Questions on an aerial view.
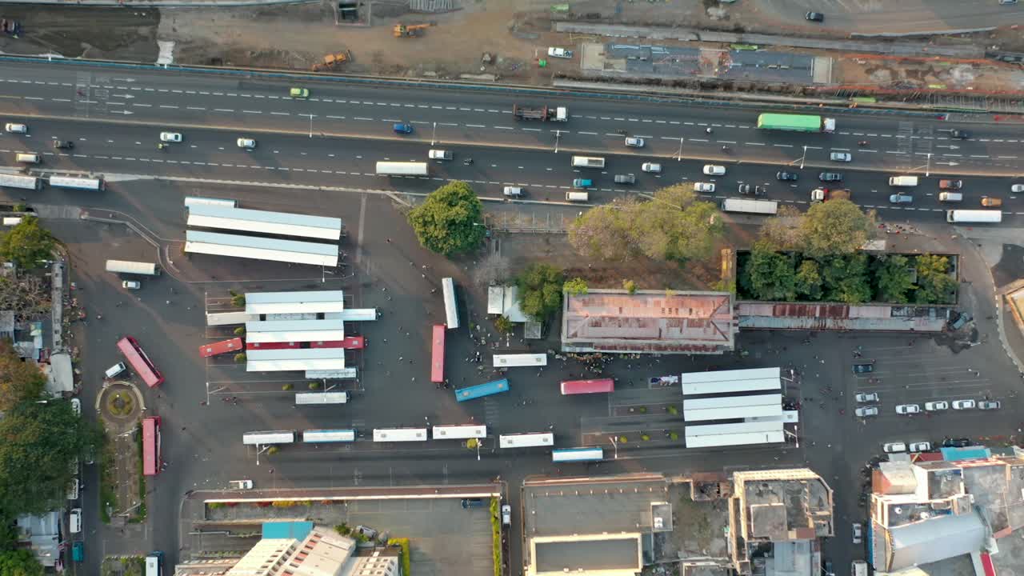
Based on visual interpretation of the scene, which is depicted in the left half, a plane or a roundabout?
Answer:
roundabout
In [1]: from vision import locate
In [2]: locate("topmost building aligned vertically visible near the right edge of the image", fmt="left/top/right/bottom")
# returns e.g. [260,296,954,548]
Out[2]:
[996,279,1024,342]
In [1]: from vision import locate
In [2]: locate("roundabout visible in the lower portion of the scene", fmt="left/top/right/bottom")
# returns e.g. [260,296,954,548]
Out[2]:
[95,376,146,429]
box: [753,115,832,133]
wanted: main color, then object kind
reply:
green vehicle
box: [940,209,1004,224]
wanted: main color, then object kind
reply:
white vehicle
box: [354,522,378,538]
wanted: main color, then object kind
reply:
gray car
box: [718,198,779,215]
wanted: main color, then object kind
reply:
white vehicle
